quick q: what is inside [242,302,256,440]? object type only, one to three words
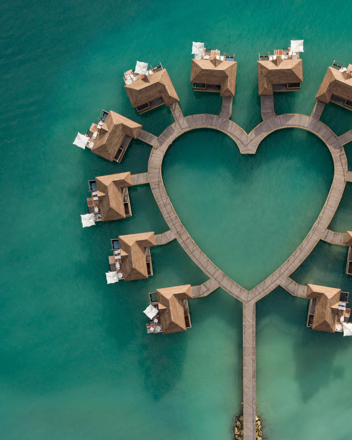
pier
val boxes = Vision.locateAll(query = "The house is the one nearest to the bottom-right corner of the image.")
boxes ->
[304,282,351,333]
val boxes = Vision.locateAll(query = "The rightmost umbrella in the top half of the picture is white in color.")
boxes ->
[291,40,303,52]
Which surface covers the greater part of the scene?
water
